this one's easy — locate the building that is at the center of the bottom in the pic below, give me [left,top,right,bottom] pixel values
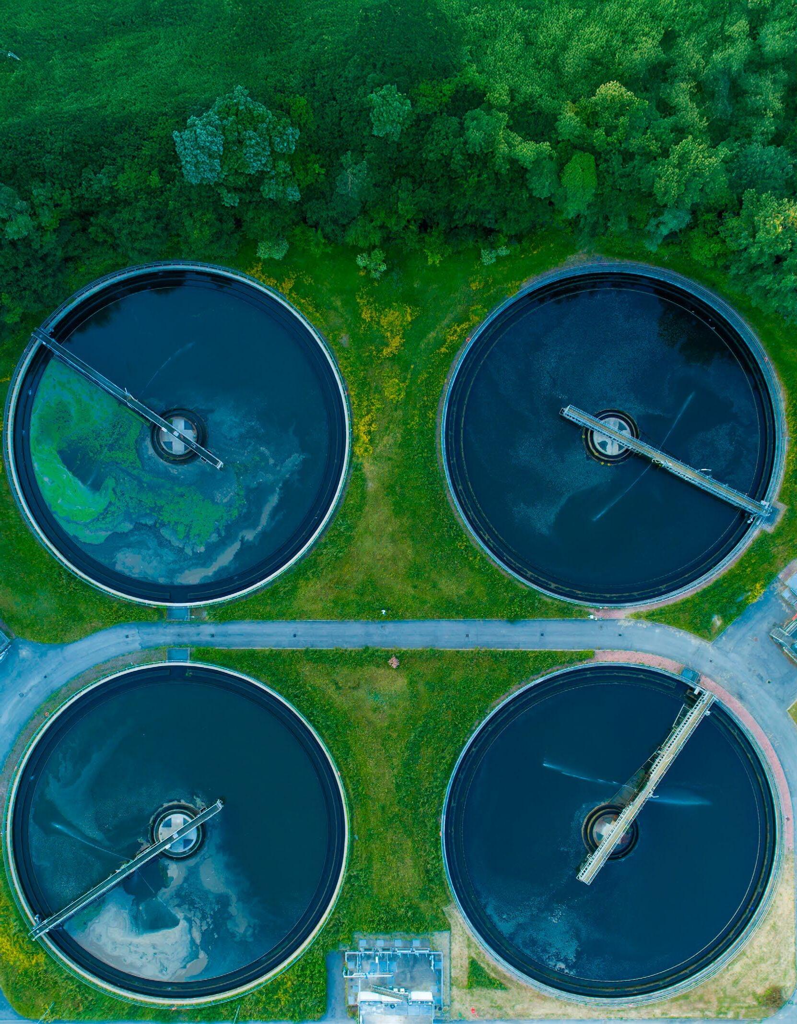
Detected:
[339,931,450,1024]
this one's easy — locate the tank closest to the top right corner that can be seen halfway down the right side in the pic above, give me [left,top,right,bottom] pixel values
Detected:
[440,261,787,608]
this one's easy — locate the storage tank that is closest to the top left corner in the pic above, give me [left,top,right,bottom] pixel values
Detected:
[3,262,349,608]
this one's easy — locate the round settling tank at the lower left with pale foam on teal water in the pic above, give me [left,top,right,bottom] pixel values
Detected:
[2,663,348,1010]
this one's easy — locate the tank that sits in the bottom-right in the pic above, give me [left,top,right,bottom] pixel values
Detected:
[440,663,787,1011]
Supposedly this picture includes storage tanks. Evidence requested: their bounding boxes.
[3,262,349,608]
[440,261,787,608]
[2,663,348,1010]
[440,663,787,1011]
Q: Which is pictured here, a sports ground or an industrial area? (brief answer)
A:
industrial area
